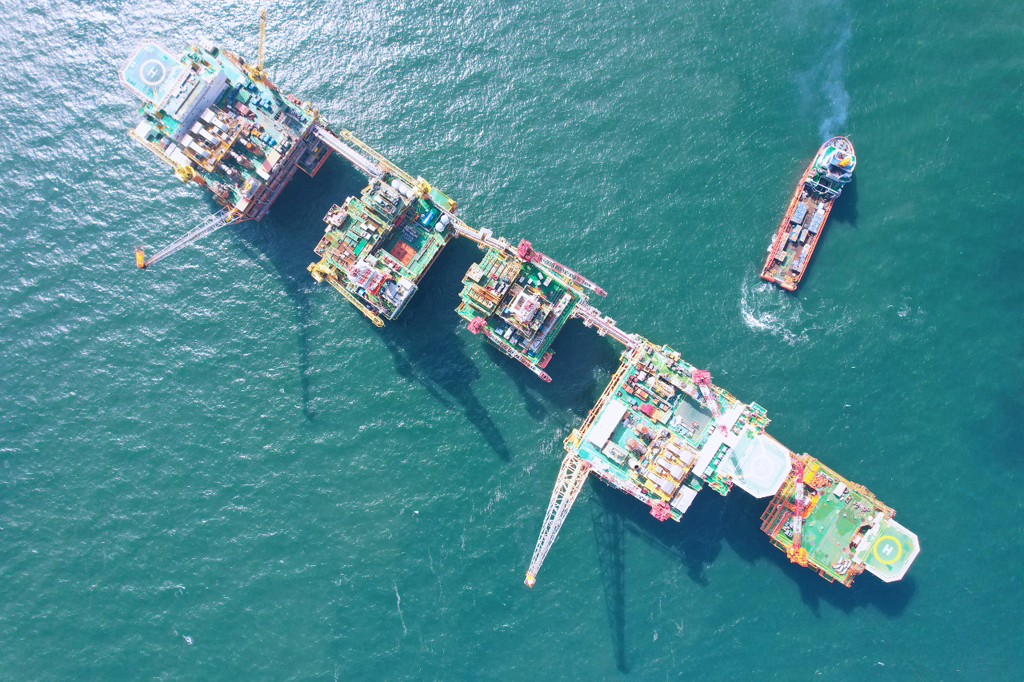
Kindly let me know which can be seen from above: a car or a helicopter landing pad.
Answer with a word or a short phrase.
helicopter landing pad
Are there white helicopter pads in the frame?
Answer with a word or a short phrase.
Yes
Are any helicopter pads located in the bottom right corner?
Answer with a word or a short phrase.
Yes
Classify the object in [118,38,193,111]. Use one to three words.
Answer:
helipad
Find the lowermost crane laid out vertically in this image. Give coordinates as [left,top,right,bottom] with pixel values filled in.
[777,458,806,566]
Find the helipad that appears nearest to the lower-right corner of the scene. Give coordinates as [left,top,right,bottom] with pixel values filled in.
[852,513,920,583]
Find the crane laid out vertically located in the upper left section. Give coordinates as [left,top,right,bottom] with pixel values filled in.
[247,10,280,95]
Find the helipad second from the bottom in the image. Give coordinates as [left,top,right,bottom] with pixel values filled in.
[715,429,792,499]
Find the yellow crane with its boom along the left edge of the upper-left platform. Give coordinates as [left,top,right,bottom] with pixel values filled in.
[127,129,210,187]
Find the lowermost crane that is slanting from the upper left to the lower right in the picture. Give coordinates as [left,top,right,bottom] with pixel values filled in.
[587,461,677,521]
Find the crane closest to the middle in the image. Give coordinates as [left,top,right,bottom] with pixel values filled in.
[464,312,553,382]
